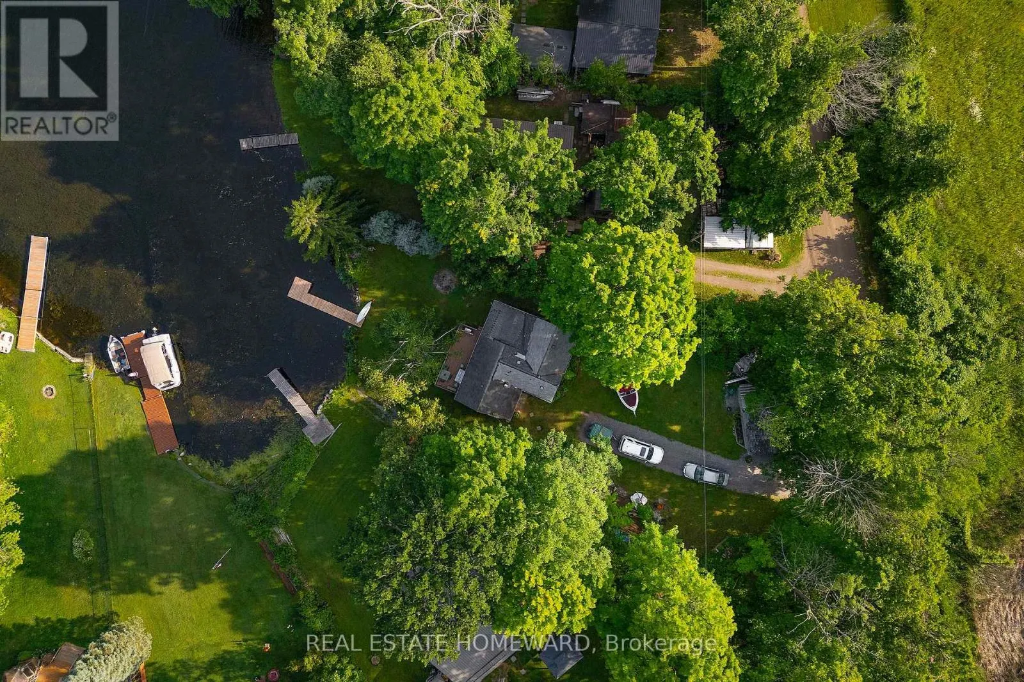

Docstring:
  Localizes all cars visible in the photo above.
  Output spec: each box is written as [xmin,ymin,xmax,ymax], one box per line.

[618,435,665,464]
[682,461,730,488]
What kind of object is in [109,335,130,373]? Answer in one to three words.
boat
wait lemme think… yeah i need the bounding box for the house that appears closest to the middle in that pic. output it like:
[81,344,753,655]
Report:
[455,300,570,421]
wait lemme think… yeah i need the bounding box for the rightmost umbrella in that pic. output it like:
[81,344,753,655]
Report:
[631,492,646,506]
